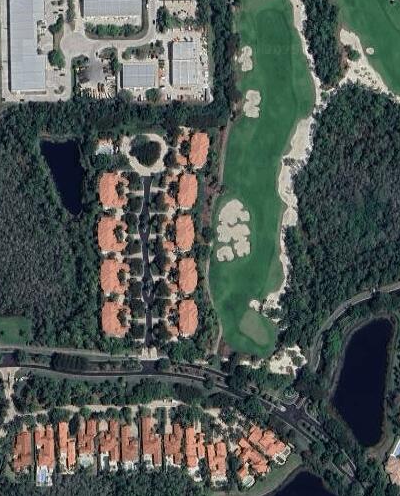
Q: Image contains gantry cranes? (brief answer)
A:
No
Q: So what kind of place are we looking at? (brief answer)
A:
residential area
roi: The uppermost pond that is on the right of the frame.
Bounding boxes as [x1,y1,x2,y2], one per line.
[333,315,395,445]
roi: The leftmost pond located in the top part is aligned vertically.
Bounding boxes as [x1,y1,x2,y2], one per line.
[42,139,84,214]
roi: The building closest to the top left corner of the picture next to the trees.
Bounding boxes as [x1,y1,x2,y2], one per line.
[9,0,46,92]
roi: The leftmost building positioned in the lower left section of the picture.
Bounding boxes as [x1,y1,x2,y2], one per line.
[15,432,35,471]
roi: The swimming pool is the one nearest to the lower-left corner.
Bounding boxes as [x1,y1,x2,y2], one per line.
[36,465,53,486]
